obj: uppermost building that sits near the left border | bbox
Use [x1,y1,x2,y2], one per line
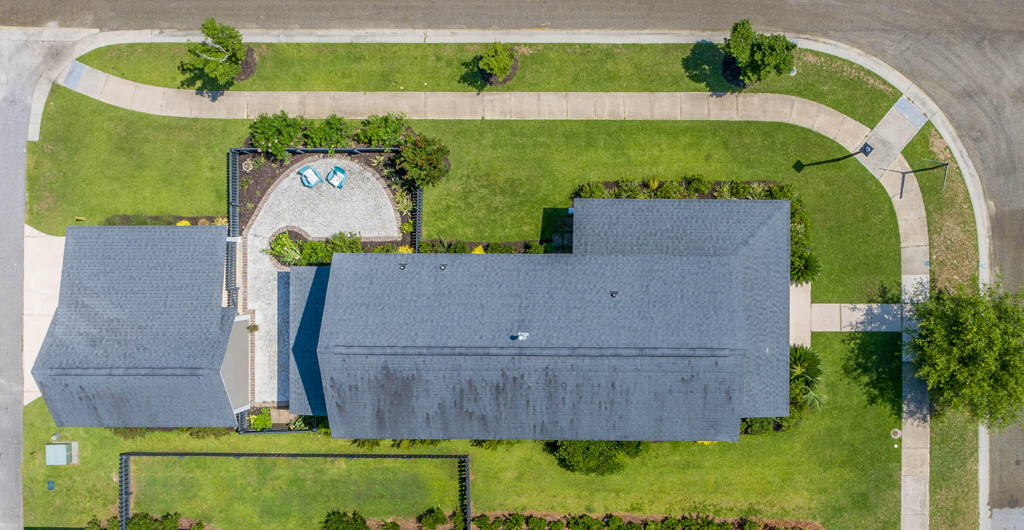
[33,226,251,427]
